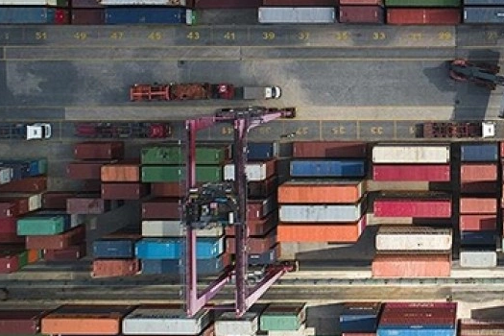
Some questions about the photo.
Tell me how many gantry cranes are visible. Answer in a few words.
one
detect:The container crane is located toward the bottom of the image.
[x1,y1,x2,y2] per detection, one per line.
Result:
[170,106,295,322]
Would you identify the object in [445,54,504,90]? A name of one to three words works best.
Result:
work vehicle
